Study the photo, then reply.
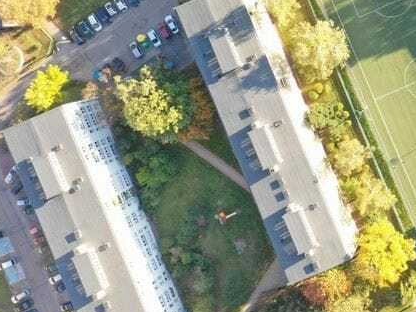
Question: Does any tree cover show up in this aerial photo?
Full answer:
Yes, there's tree cover in this view.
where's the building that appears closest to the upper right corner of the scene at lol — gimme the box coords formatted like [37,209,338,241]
[173,0,357,284]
